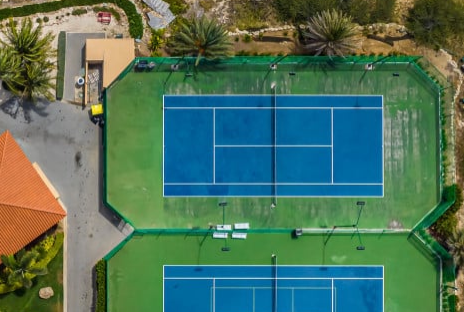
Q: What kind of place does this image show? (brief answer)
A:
sports ground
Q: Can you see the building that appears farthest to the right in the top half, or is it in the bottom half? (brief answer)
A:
top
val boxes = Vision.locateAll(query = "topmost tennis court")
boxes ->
[108,64,440,229]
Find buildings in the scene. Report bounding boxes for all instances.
[84,38,135,94]
[0,131,67,263]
